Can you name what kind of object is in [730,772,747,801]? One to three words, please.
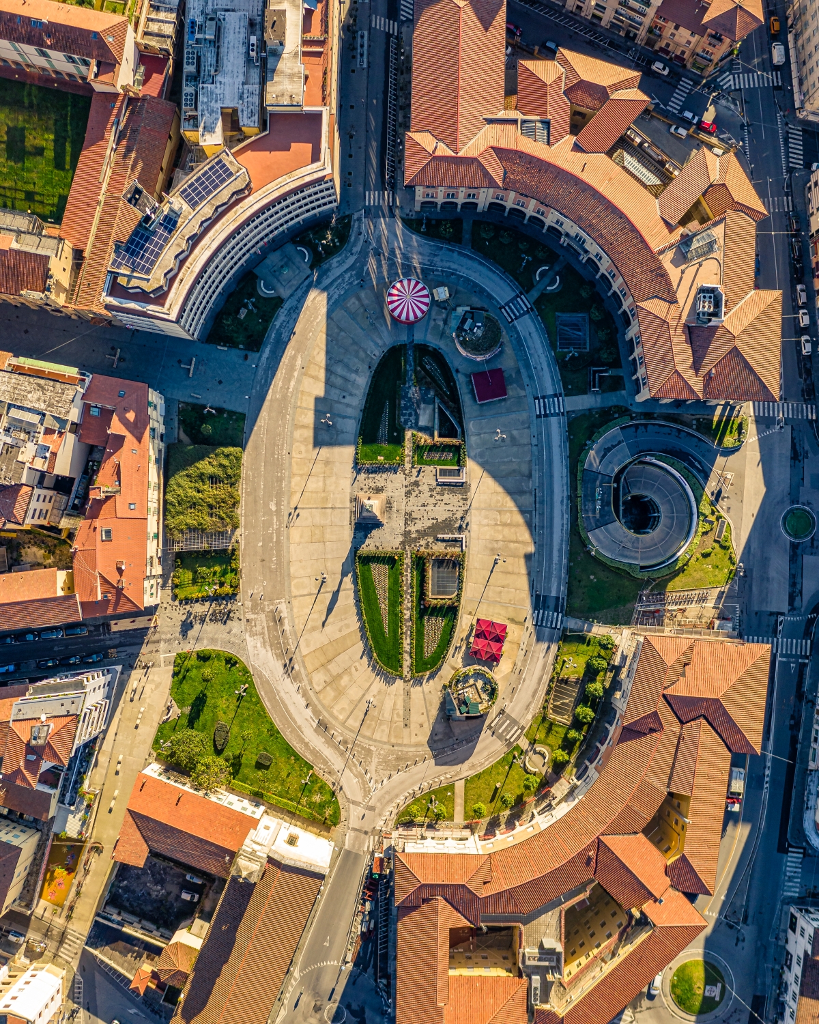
vehicle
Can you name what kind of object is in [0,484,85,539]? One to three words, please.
house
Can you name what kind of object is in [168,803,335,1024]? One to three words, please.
church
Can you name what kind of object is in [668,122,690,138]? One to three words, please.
car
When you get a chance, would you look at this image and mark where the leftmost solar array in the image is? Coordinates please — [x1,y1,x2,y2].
[111,228,185,270]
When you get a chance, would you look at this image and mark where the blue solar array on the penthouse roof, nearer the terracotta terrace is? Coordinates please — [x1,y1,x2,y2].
[179,158,230,207]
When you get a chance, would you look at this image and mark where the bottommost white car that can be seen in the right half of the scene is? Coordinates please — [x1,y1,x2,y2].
[648,974,661,996]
